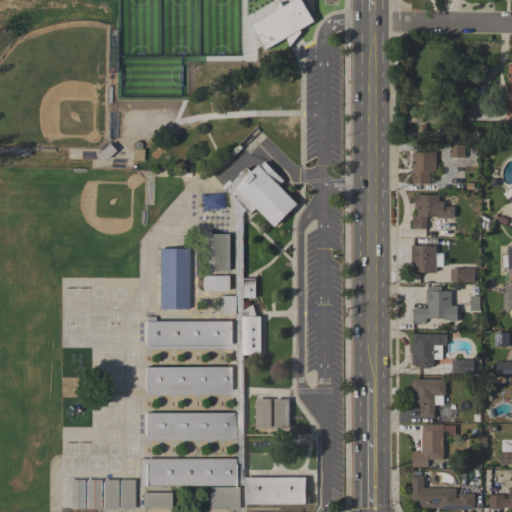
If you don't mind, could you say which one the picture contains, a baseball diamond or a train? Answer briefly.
baseball diamond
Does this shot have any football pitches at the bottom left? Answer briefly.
No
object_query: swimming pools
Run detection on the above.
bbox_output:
[447,338,477,360]
[434,471,458,486]
[490,400,512,420]
[500,156,512,189]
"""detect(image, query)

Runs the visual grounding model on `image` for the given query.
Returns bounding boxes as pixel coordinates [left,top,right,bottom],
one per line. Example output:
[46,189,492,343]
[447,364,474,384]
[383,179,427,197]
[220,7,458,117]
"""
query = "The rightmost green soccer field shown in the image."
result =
[203,0,242,54]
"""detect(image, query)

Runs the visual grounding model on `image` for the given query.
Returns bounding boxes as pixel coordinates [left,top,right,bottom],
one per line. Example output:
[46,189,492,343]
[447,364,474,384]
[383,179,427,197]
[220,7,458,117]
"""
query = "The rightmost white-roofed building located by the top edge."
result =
[249,0,314,50]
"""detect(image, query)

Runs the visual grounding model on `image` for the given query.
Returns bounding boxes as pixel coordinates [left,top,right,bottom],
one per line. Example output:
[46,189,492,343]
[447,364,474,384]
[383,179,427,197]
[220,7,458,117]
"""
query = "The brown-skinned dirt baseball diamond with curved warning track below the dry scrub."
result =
[0,22,110,147]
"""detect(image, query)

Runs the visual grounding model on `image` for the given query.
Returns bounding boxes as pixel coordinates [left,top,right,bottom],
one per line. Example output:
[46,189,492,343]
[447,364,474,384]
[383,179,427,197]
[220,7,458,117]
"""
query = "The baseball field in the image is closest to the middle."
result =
[81,174,145,234]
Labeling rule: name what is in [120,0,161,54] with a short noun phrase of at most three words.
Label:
soccer field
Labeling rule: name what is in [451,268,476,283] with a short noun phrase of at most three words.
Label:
building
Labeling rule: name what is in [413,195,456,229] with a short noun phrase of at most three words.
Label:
house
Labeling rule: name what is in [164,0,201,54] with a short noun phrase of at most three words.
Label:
soccer field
